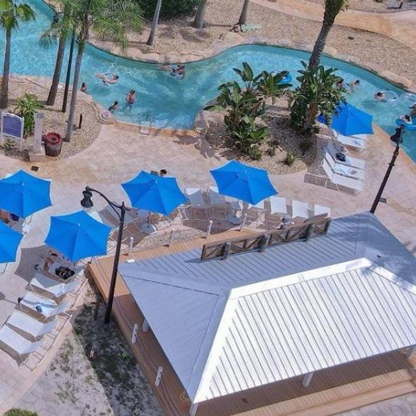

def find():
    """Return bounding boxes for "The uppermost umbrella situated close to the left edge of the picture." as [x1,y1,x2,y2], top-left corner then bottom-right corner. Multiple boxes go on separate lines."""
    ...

[0,176,52,238]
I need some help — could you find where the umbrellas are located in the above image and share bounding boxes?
[318,107,373,154]
[0,176,52,238]
[46,215,110,279]
[122,174,187,236]
[212,164,275,225]
[0,225,22,261]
